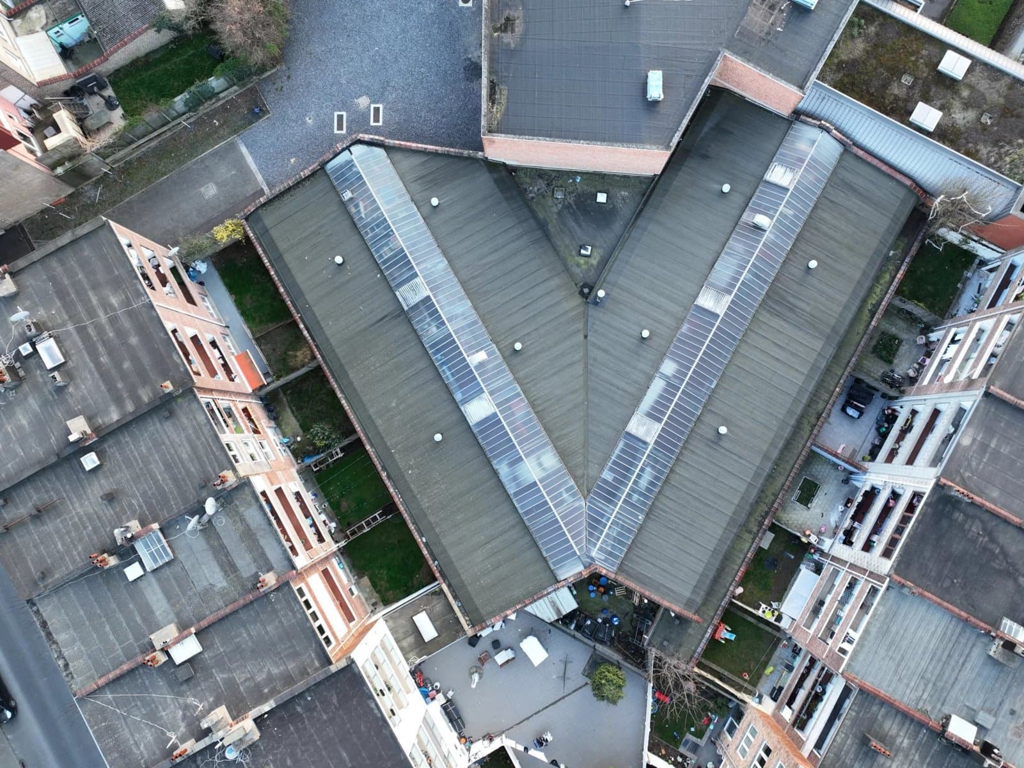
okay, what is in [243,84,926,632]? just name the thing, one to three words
warehouse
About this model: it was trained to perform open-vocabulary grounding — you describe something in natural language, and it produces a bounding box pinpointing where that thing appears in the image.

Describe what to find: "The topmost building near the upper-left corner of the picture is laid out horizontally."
[0,0,186,89]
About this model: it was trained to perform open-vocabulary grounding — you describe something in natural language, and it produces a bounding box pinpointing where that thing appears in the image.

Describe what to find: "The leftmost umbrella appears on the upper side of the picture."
[87,82,118,109]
